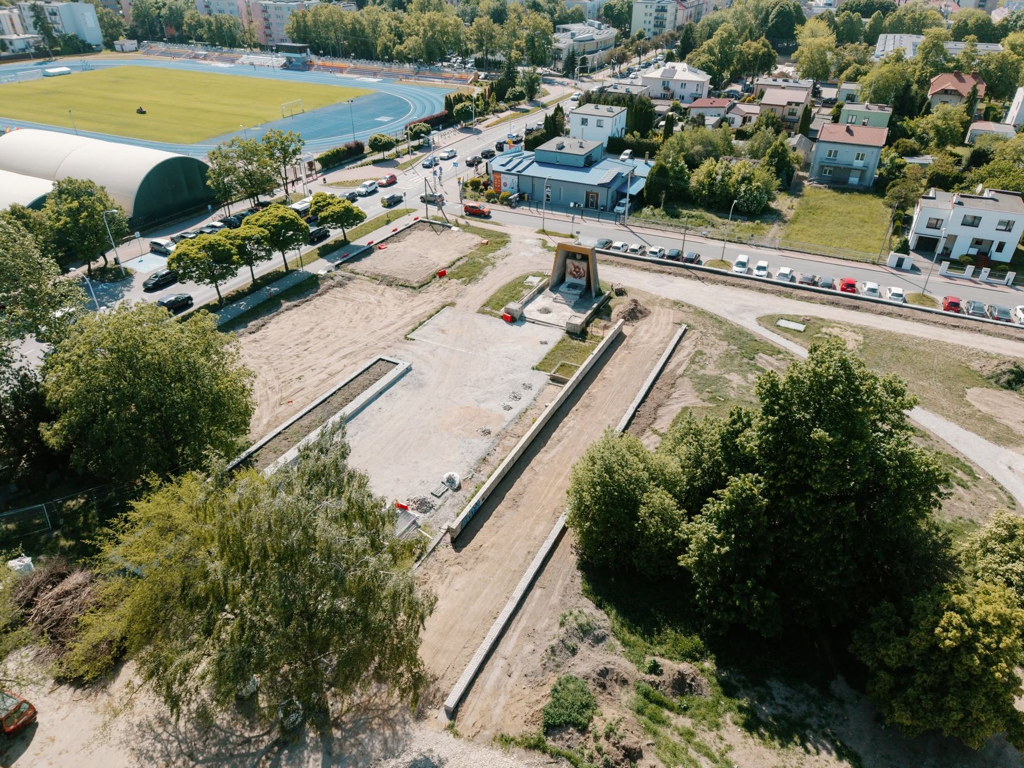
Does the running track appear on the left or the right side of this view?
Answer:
left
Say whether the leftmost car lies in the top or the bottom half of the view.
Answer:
bottom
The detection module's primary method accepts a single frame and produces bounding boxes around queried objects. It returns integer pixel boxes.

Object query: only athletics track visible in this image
[0,67,405,146]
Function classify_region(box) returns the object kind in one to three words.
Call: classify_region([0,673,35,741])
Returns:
car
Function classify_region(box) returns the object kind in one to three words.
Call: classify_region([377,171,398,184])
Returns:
vehicle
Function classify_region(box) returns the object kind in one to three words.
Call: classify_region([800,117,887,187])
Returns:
house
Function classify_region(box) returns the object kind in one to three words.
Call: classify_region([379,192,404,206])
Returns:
car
